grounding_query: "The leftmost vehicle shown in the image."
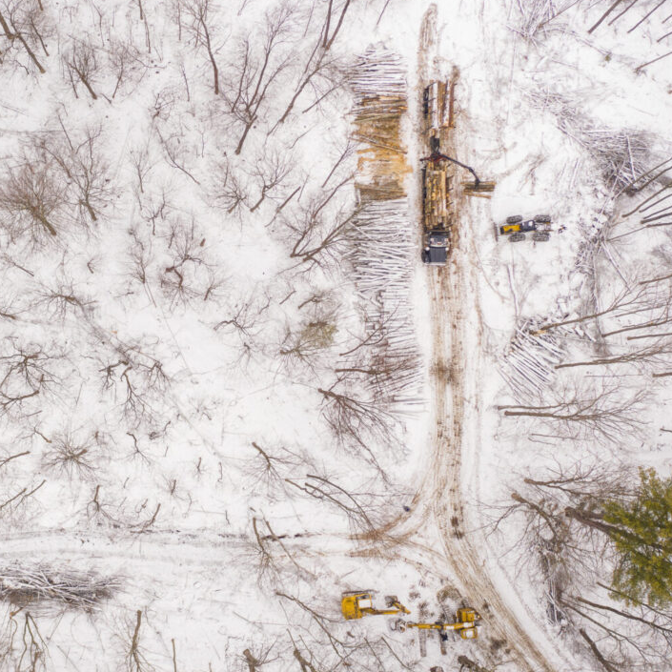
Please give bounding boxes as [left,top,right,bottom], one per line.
[339,587,411,621]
